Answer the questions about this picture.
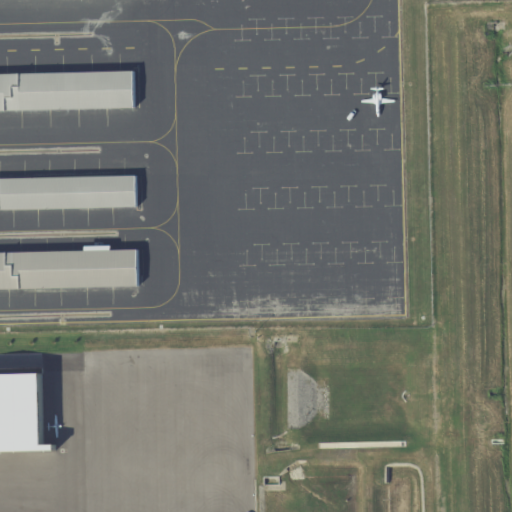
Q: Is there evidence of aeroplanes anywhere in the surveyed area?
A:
Yes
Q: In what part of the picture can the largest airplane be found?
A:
top right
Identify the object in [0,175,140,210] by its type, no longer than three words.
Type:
hangar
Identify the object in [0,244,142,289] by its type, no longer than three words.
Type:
hangar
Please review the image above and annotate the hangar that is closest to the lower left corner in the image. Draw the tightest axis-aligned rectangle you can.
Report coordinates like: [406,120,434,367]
[0,368,57,452]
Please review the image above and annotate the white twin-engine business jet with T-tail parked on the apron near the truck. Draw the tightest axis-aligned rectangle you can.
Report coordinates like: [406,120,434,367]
[362,88,395,118]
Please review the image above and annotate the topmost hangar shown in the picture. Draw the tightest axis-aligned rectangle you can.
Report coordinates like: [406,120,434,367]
[0,70,137,110]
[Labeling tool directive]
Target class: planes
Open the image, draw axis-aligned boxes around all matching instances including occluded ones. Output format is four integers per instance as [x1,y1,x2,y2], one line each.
[49,416,63,438]
[362,88,395,118]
